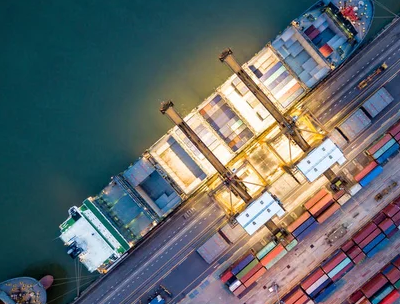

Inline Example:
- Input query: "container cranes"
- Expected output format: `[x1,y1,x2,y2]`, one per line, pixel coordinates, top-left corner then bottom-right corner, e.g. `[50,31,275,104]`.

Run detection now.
[216,47,347,189]
[158,99,288,240]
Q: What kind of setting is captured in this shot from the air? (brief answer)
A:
port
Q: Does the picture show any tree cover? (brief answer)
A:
No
